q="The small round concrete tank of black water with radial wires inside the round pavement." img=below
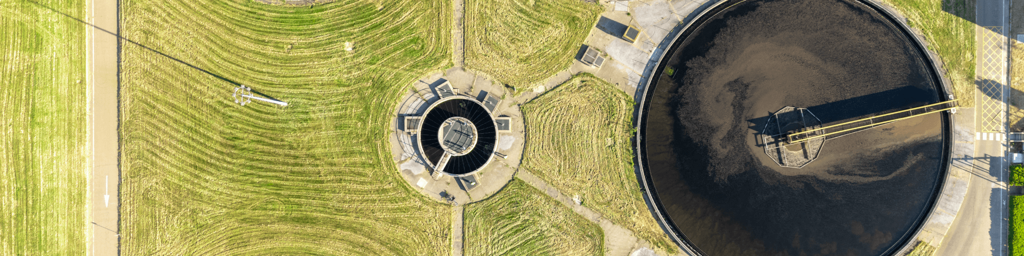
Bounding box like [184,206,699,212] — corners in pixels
[417,96,498,178]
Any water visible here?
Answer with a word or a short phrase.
Yes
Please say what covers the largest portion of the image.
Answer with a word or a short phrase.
grass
